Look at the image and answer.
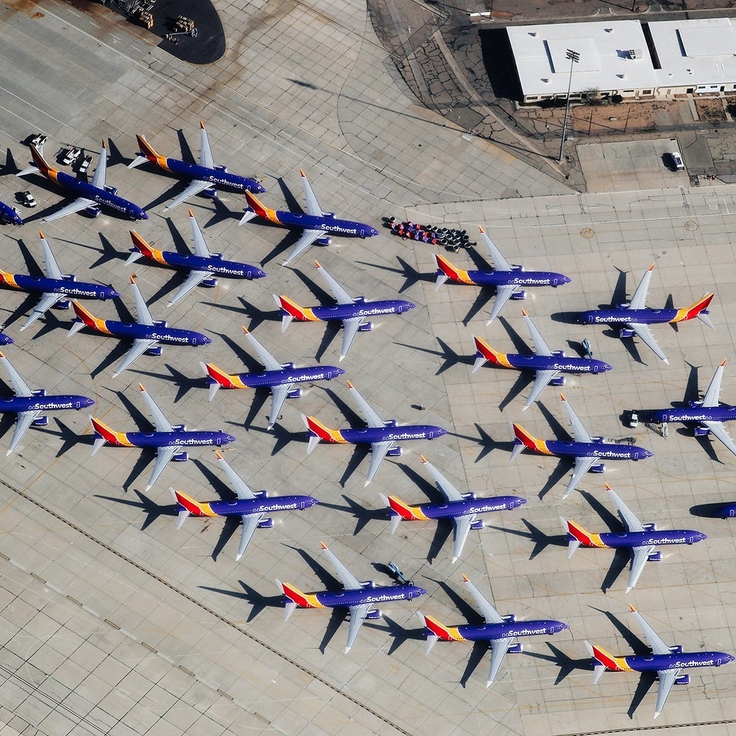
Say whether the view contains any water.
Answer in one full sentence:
No, the picture contains no water.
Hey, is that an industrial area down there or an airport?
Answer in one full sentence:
What you see here is an airport.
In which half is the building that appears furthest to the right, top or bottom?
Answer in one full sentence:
The building that appears furthest to the right sits in the top half of the picture.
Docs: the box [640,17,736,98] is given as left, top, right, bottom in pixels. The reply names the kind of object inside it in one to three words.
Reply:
building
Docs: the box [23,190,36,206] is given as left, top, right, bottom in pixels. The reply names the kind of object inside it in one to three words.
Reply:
vehicle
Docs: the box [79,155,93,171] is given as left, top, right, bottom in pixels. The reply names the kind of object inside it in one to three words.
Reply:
vehicle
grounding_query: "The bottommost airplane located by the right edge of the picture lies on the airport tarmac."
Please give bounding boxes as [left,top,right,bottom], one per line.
[583,604,735,719]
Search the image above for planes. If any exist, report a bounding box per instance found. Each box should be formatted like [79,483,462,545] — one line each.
[123,210,265,308]
[583,604,735,719]
[431,226,571,326]
[0,332,13,345]
[509,393,653,500]
[169,452,318,561]
[272,261,415,362]
[65,275,211,377]
[470,308,611,410]
[275,542,426,655]
[0,350,95,456]
[0,231,119,331]
[88,384,234,491]
[15,139,148,224]
[640,361,736,465]
[300,381,446,487]
[199,327,344,431]
[558,483,707,593]
[126,120,265,212]
[379,456,527,564]
[0,203,22,224]
[416,574,568,689]
[238,170,379,266]
[573,264,717,365]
